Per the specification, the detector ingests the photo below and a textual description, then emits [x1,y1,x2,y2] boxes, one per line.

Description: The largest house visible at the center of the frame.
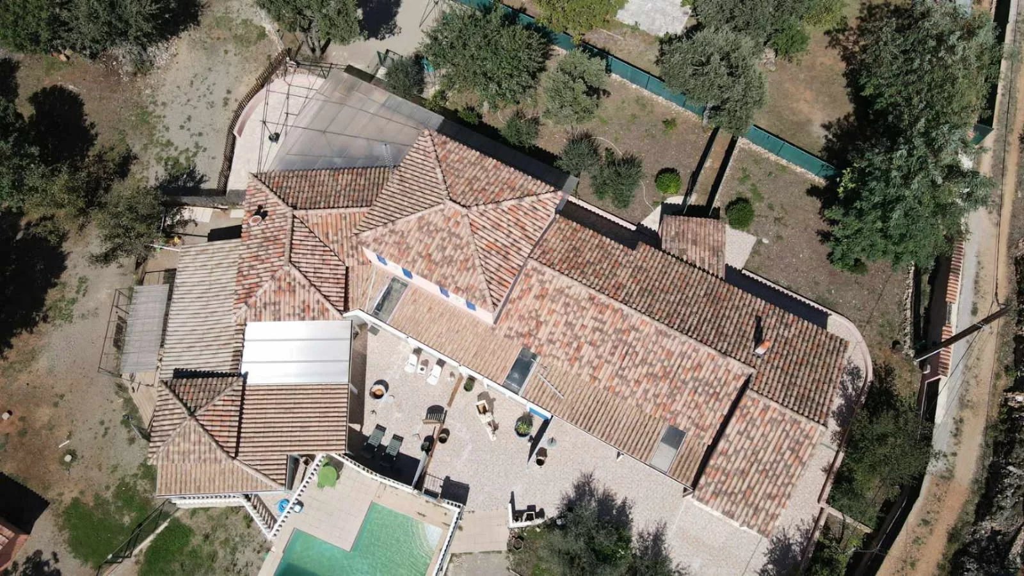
[145,126,850,540]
